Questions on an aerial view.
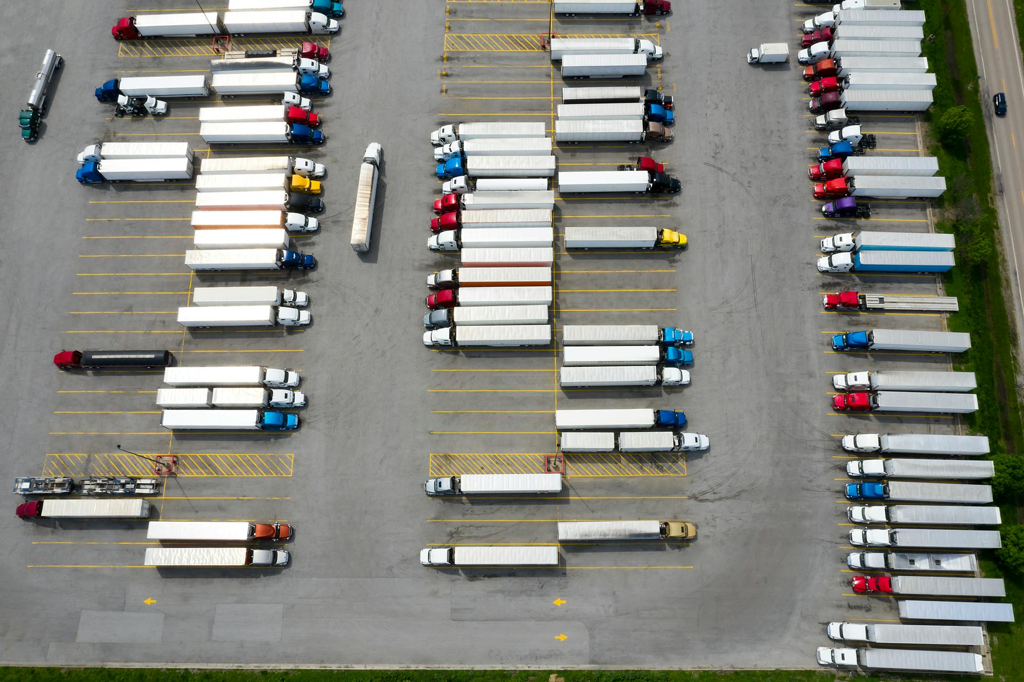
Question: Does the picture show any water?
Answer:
No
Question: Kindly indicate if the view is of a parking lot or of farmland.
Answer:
parking lot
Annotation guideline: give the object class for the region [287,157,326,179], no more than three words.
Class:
truck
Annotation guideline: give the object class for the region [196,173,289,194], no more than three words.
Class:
trailer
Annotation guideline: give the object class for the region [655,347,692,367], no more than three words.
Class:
vehicle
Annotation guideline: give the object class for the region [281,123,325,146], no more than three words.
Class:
truck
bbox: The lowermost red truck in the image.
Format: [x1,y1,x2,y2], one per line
[850,574,895,595]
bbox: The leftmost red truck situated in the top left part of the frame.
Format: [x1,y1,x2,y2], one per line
[112,17,155,41]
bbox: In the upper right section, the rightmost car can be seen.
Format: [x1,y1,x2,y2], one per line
[995,92,1010,114]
